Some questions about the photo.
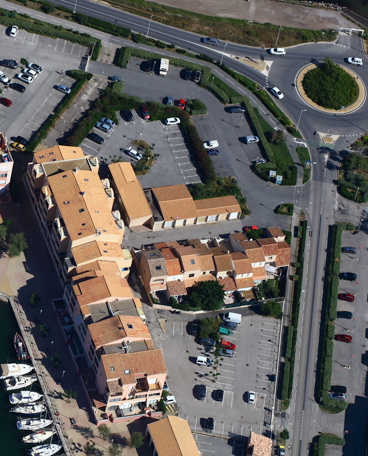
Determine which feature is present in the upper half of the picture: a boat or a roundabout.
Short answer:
roundabout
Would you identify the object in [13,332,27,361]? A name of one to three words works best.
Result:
boat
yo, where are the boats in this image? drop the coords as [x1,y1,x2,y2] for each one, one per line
[13,332,27,361]
[9,383,46,418]
[27,426,62,456]
[20,407,57,445]
[1,375,37,391]
[7,392,43,405]
[15,393,53,431]
[0,361,34,379]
